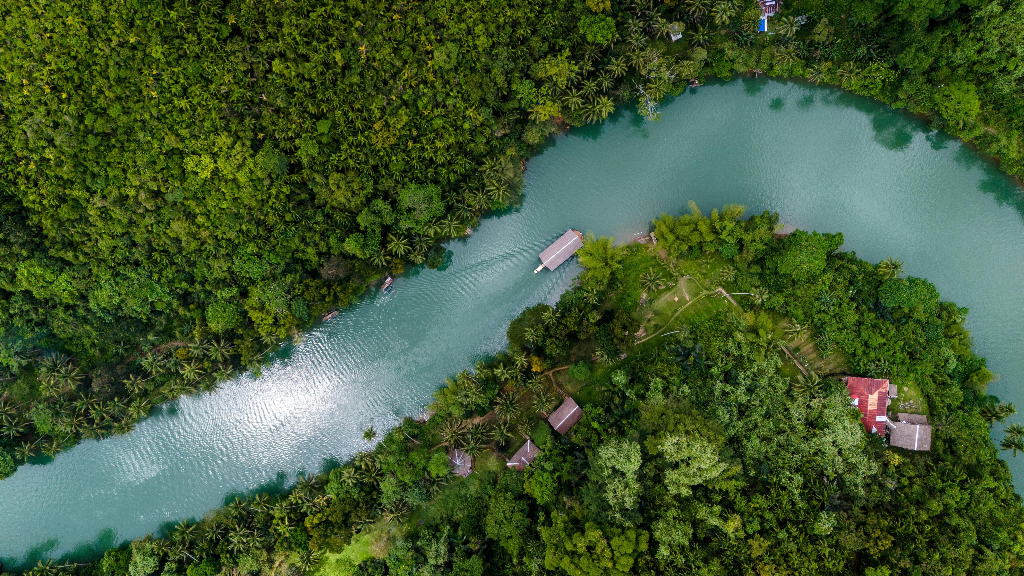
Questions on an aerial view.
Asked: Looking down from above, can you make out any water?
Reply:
Yes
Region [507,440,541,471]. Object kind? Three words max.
shed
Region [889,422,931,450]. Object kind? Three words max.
house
